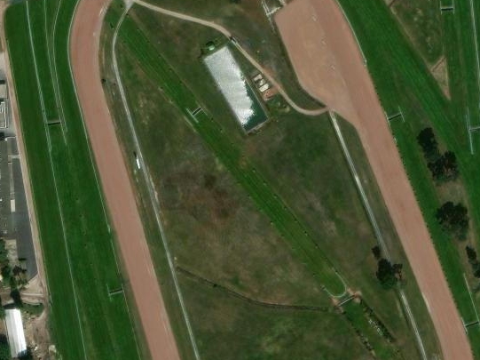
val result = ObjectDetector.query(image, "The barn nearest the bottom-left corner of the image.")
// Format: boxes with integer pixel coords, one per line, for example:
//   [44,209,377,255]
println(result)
[5,308,26,356]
